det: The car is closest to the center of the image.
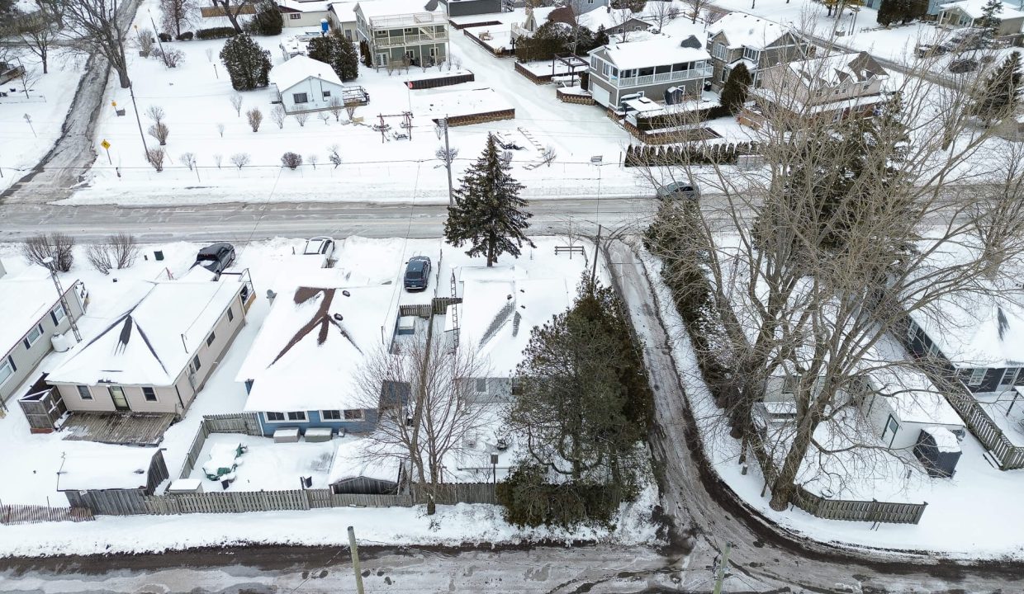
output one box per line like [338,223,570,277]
[403,254,434,287]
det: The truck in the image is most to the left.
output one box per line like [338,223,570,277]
[189,237,239,273]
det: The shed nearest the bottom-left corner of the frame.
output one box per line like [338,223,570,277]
[53,446,167,511]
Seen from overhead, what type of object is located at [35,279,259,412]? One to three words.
house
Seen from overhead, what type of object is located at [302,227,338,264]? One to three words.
car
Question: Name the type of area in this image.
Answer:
residential area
